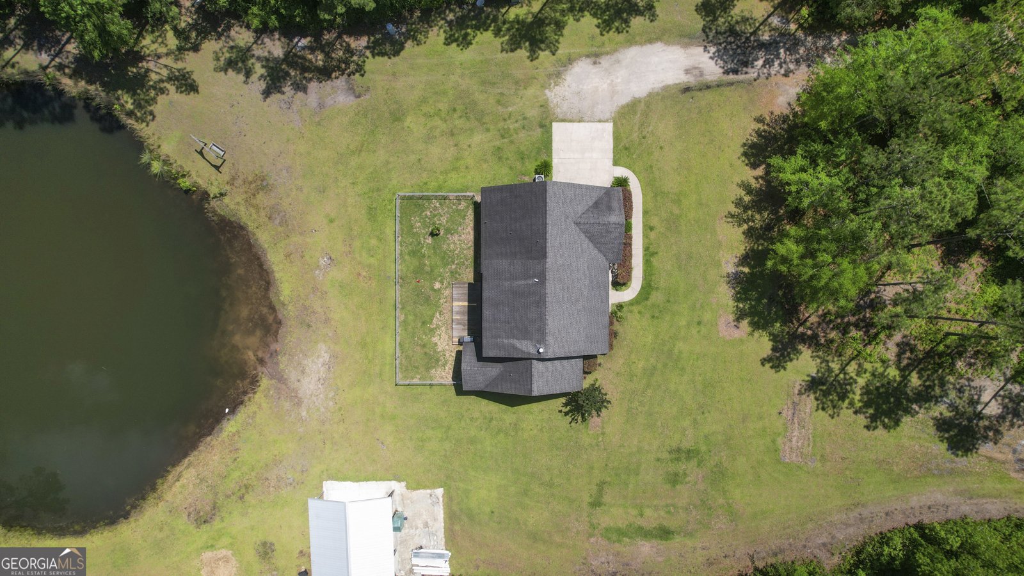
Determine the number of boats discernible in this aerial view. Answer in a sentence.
There are no boats in this view.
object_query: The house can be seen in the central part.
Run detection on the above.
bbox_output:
[461,181,625,395]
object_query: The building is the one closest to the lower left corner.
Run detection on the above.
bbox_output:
[308,489,398,576]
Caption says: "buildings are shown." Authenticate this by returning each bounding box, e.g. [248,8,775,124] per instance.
[461,181,625,395]
[308,489,398,576]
